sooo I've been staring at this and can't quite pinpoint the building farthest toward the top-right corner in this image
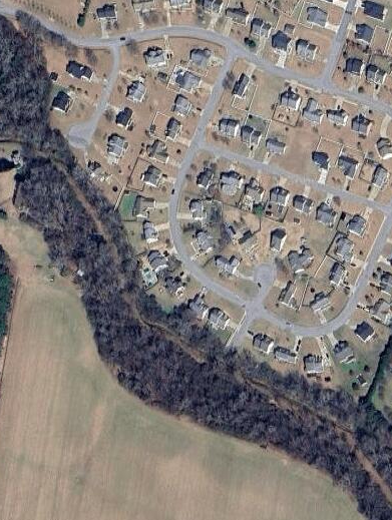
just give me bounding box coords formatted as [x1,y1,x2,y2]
[361,0,385,20]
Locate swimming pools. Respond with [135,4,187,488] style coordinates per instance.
[141,270,157,287]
